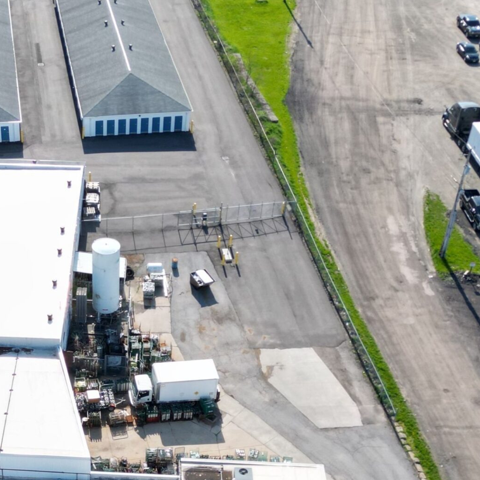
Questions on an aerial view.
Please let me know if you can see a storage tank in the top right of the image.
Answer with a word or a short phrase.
No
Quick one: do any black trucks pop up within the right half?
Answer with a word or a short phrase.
Yes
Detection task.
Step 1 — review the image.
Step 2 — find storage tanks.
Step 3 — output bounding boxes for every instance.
[94,235,124,330]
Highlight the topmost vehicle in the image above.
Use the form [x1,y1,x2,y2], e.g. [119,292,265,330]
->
[452,14,480,37]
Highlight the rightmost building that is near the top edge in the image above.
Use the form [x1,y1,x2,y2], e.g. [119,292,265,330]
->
[55,0,194,137]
